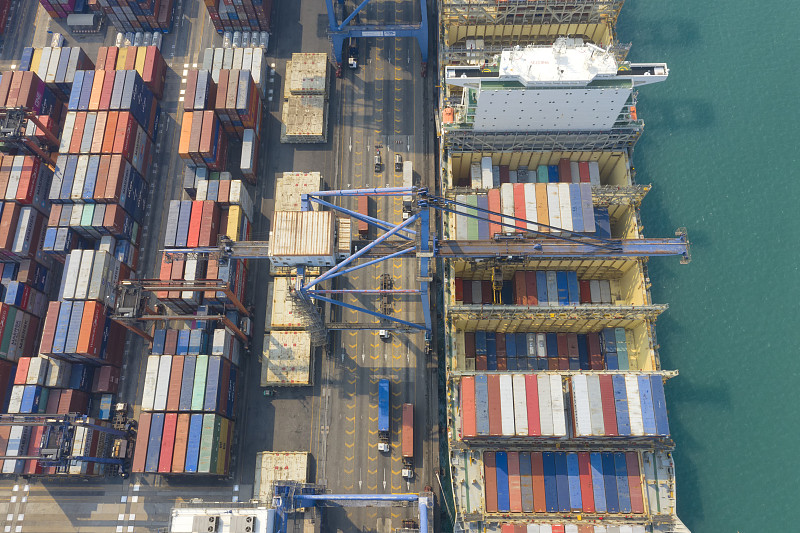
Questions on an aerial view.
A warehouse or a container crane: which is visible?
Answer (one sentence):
The one in the frame is a container crane.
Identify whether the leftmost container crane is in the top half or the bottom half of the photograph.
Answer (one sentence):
The leftmost container crane is in the top half of the image.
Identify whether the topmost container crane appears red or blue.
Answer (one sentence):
The topmost container crane is blue.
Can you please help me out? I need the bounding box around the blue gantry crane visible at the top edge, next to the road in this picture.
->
[323,0,427,77]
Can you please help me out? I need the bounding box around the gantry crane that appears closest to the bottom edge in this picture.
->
[166,481,443,533]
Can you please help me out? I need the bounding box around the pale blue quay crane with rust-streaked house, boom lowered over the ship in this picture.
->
[159,173,703,355]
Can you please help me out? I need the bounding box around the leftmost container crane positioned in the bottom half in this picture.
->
[0,408,138,473]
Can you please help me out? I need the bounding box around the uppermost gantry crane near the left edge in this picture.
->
[0,99,64,163]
